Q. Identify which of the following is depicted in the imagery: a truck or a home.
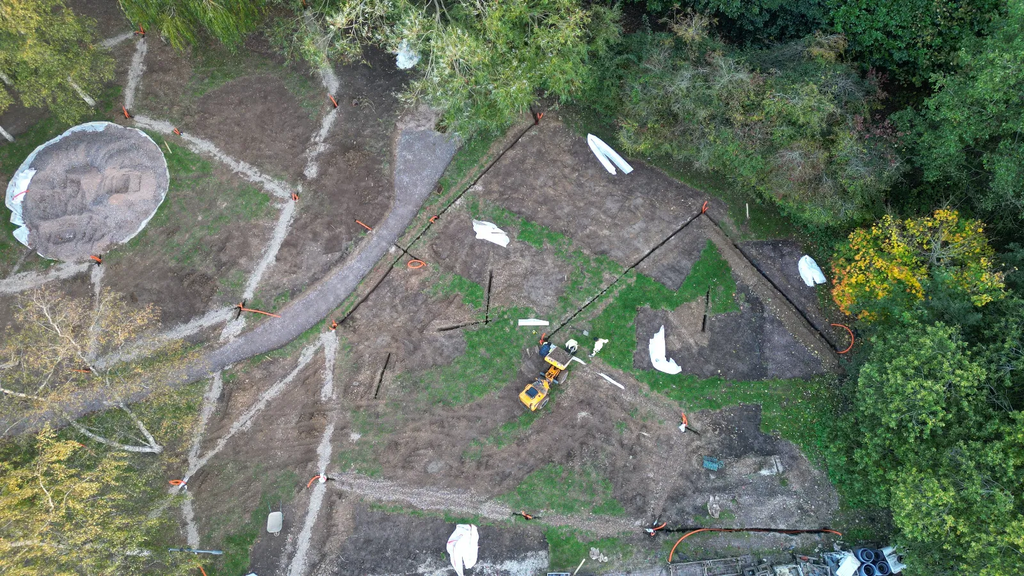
truck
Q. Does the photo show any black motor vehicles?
No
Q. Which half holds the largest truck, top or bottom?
bottom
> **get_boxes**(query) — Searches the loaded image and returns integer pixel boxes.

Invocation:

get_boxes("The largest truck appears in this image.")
[515,343,573,411]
